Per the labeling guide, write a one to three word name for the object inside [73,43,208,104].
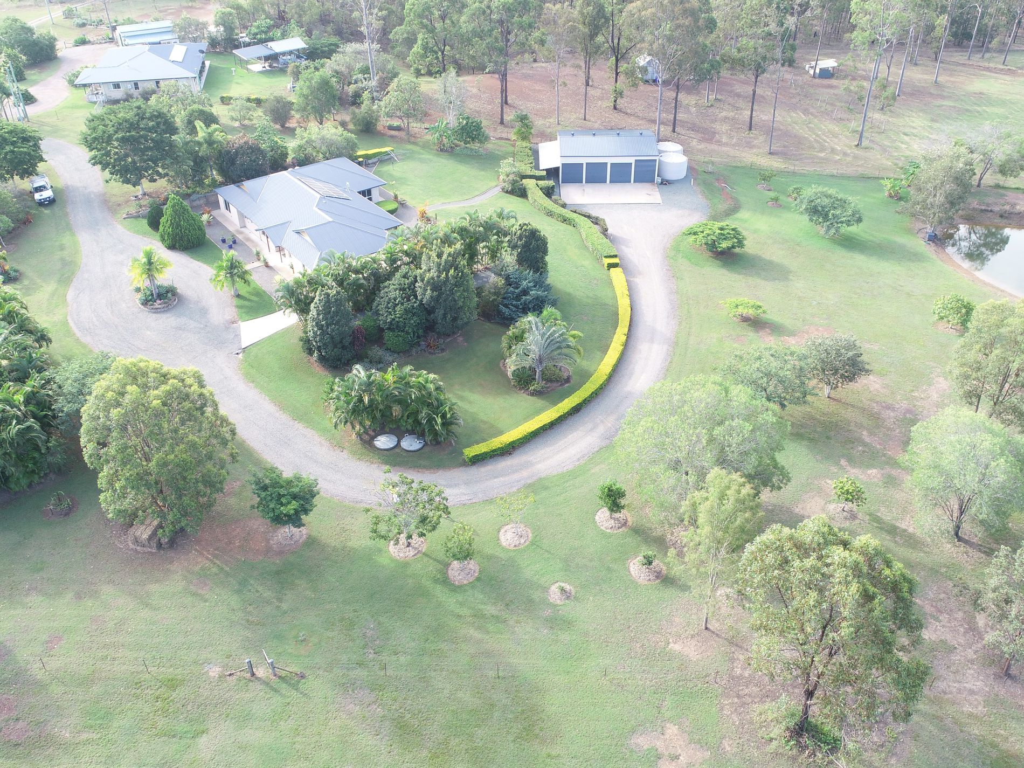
house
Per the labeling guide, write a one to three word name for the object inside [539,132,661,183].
shed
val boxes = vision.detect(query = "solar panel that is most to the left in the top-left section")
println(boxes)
[167,43,187,63]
